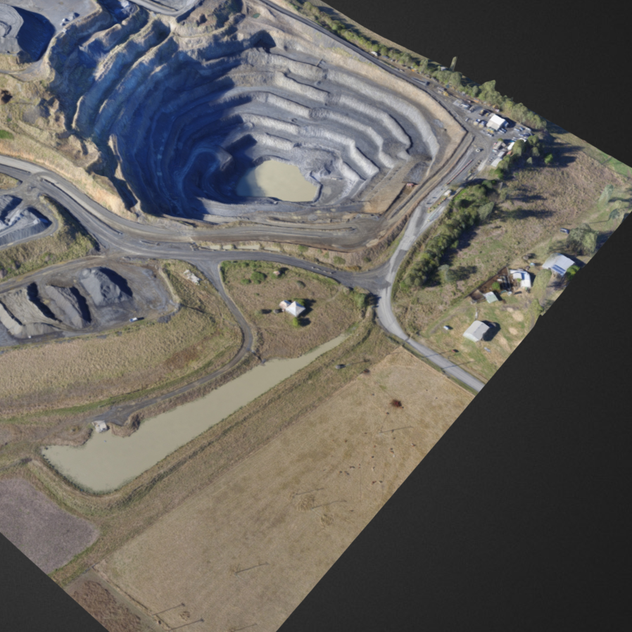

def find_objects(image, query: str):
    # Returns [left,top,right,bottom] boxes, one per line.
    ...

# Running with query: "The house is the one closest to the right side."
[542,252,569,278]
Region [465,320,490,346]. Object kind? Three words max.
shed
